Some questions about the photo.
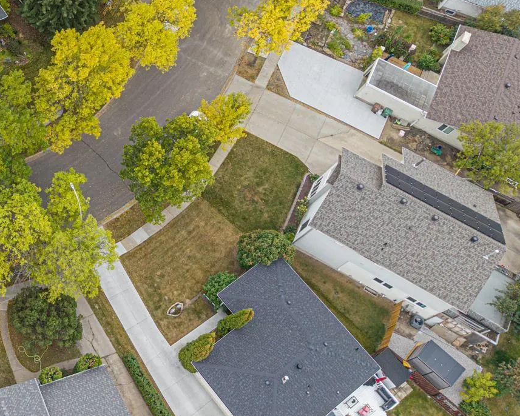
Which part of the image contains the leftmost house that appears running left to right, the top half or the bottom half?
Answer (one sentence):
It is in the bottom half that the leftmost house that appears running left to right appears.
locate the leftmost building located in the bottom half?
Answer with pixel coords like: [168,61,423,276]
[0,361,130,416]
